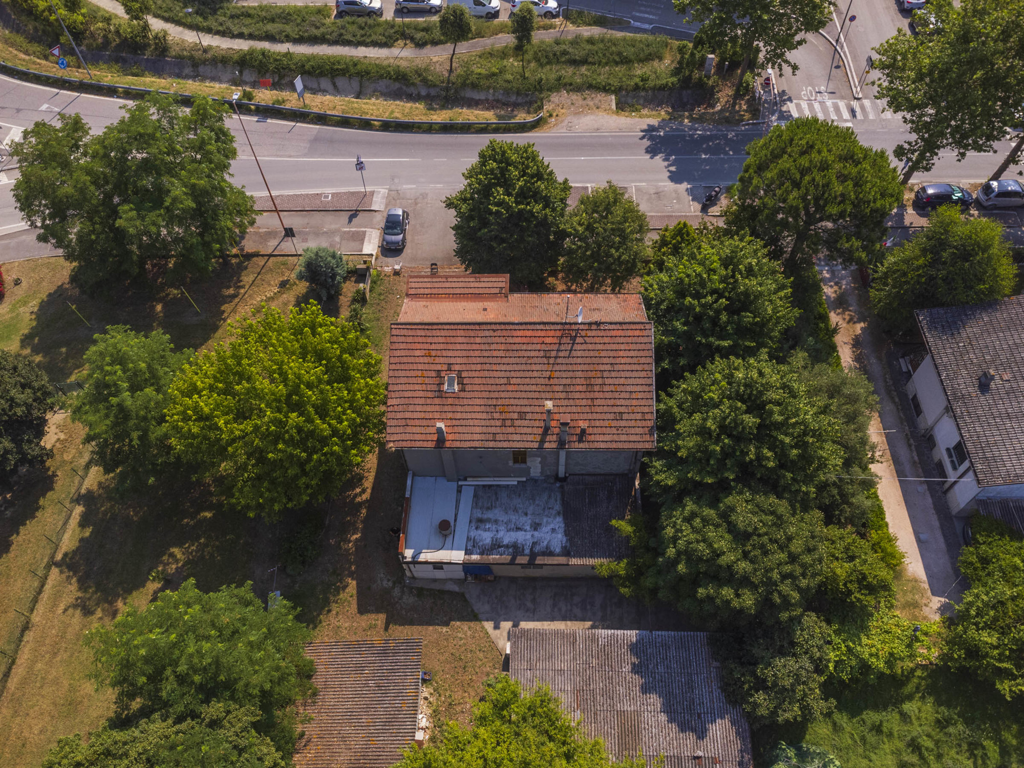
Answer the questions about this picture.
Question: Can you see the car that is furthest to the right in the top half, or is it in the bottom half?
top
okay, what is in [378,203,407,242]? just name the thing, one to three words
car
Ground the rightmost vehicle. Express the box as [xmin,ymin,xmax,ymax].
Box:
[990,182,1024,210]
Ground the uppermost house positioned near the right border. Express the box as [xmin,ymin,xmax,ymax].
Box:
[905,290,1024,516]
